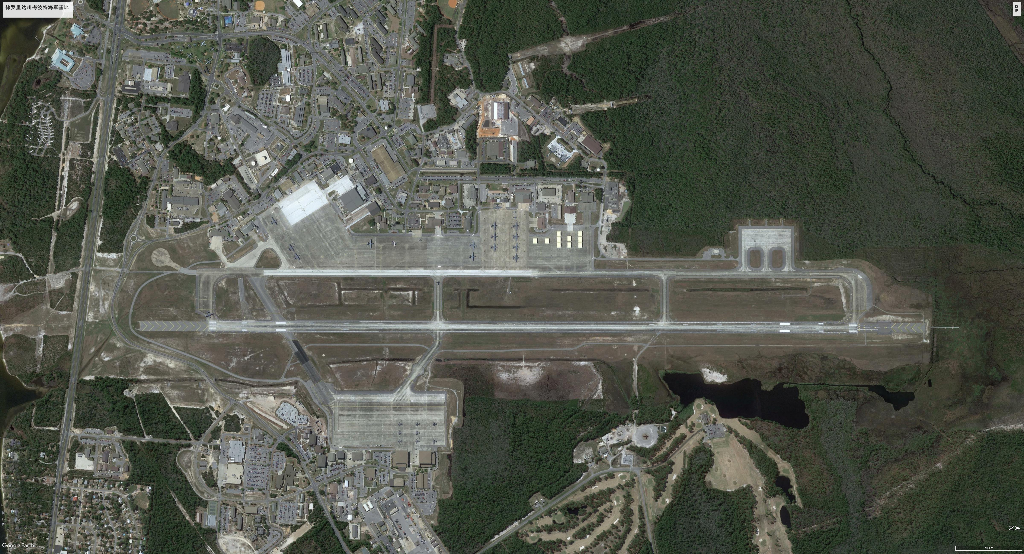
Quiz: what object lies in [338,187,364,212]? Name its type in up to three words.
hangar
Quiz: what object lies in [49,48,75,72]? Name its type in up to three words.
building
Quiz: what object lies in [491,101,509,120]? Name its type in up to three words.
hangar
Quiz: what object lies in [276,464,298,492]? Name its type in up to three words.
building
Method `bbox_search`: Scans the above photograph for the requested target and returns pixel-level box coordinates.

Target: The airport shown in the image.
[140,175,925,465]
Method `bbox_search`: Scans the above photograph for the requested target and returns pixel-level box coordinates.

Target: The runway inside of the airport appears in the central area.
[209,321,857,333]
